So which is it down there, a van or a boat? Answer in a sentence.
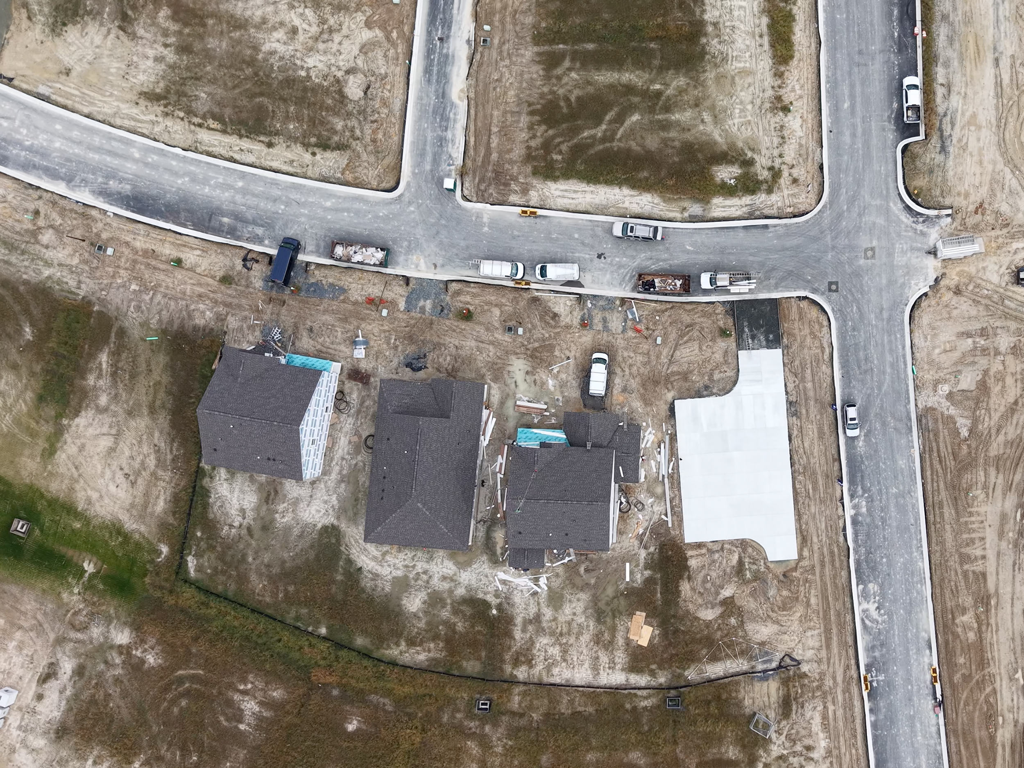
This aerial view contains a van.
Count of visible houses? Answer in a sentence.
I count 3 houses.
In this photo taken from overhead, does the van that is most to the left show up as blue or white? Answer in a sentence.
In this view, the van that is most to the left is blue.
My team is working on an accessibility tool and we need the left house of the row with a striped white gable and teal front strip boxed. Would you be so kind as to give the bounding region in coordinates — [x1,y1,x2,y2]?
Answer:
[197,343,341,481]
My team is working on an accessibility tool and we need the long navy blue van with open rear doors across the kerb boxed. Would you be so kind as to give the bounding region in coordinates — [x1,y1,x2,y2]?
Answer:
[259,236,303,288]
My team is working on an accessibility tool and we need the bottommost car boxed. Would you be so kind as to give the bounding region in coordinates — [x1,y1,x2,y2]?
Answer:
[843,401,862,438]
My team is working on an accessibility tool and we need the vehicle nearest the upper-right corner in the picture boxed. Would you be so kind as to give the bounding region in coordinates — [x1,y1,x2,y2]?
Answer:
[901,74,922,124]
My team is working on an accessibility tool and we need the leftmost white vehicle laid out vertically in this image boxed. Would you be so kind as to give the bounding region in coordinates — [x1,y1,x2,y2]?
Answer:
[590,351,610,398]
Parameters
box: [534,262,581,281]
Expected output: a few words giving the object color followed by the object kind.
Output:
white vehicle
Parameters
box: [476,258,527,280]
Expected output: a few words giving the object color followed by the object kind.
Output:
white vehicle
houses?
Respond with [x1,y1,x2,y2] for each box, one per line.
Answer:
[364,378,487,551]
[506,412,642,568]
[197,343,341,481]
